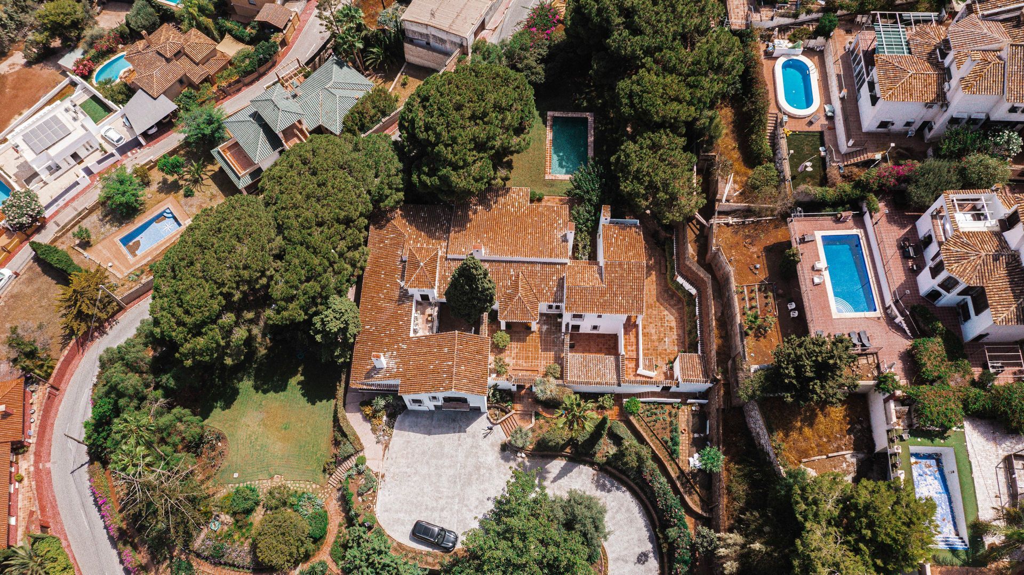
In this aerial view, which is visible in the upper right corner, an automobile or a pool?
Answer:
pool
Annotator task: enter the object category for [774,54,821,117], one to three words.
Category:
swimming pool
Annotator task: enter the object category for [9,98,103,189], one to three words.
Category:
house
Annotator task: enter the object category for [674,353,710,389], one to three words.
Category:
shed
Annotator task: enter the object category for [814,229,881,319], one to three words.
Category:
swimming pool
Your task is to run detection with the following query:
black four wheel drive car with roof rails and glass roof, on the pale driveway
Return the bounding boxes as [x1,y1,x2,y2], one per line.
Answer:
[409,519,459,556]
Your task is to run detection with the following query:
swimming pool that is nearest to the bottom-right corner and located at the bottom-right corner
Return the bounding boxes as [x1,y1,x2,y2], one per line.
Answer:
[909,446,968,548]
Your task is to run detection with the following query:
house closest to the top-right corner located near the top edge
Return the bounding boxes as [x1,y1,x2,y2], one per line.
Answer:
[850,0,1024,131]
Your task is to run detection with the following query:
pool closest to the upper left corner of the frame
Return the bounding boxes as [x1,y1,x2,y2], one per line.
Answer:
[95,54,131,81]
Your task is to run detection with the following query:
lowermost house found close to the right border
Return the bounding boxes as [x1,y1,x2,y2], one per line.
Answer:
[918,189,1024,335]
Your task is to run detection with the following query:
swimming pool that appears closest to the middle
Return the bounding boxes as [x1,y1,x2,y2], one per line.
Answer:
[545,111,594,179]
